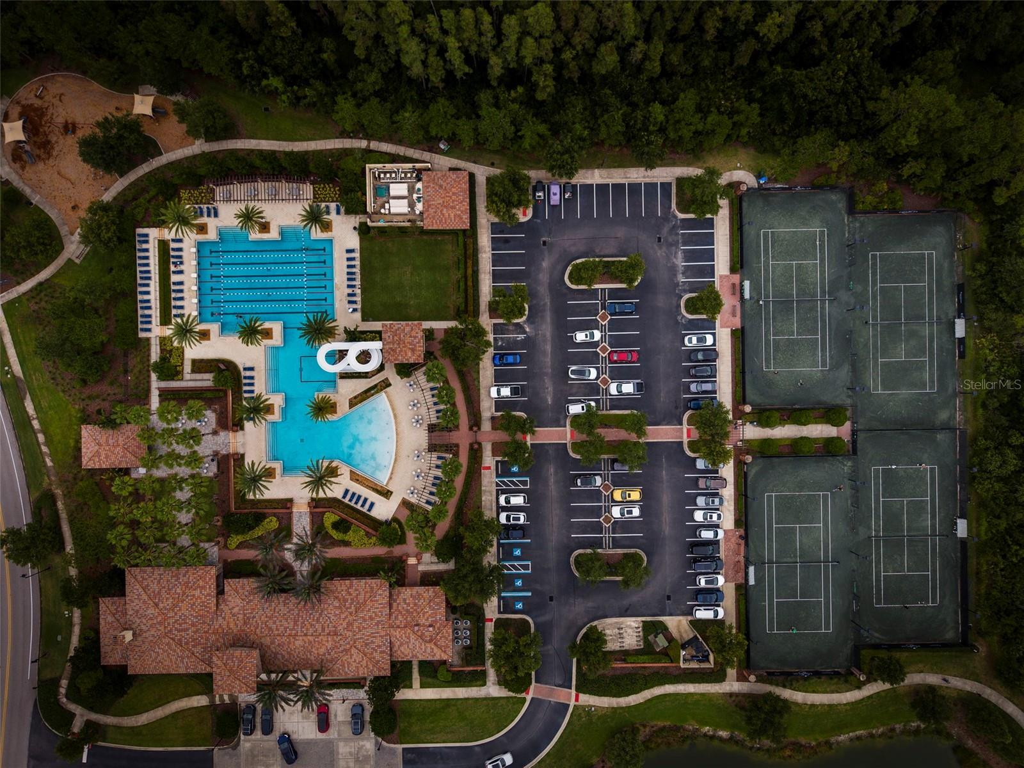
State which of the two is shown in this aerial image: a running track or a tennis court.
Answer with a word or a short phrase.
tennis court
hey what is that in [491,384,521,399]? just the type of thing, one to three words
vehicle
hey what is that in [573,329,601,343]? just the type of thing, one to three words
car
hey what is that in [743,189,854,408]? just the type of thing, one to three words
tennis court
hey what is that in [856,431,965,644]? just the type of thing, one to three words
tennis court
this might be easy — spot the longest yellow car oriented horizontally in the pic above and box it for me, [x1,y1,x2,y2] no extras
[612,488,642,502]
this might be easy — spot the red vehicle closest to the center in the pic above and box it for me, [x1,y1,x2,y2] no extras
[609,349,639,364]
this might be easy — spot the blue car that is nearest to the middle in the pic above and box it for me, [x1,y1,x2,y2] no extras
[493,352,520,366]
